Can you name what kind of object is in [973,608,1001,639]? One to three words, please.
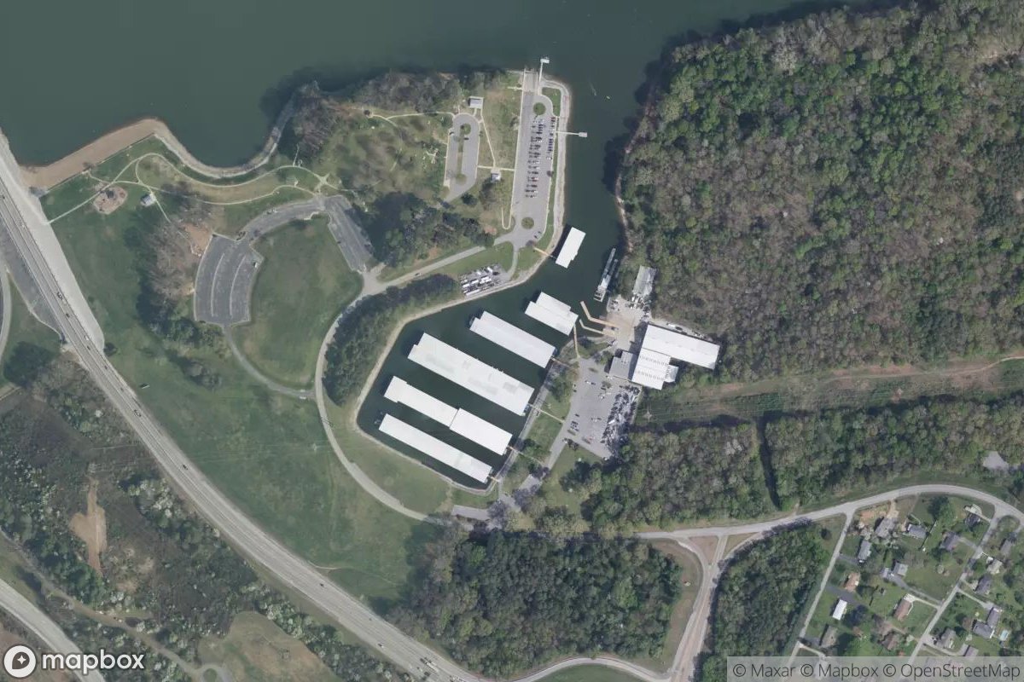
house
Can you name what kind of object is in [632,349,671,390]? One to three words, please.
shed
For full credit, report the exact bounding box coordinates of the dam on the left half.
[0,131,105,352]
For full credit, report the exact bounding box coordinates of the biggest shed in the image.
[643,324,720,369]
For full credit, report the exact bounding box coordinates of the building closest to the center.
[609,351,637,380]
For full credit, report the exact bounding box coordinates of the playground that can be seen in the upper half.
[94,186,127,214]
